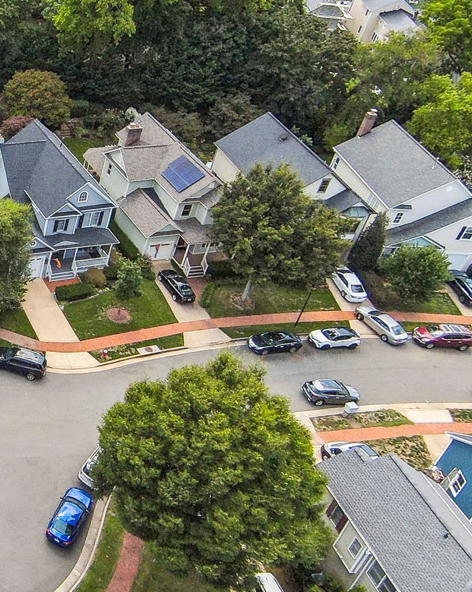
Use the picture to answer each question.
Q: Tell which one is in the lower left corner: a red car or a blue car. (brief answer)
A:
blue car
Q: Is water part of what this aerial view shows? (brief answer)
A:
No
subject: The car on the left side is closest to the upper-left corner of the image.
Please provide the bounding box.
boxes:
[153,266,197,300]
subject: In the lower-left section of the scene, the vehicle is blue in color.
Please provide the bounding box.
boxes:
[50,481,94,545]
